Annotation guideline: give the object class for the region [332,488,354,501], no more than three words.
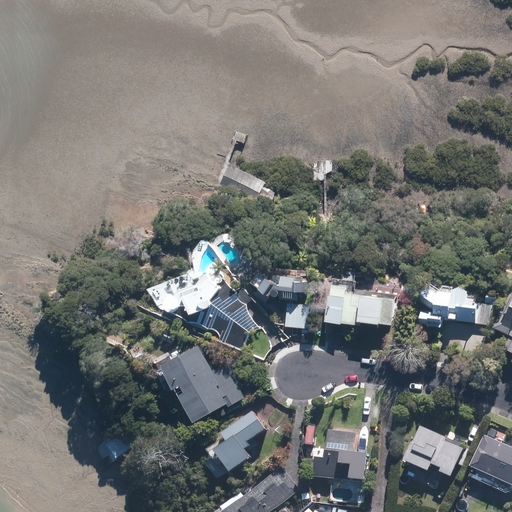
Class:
swimming pool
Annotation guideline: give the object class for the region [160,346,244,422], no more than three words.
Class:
house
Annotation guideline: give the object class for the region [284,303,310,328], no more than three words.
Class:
building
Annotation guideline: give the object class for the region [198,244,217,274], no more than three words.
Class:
swimming pool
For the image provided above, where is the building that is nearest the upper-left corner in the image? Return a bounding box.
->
[220,164,266,200]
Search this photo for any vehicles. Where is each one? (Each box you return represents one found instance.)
[468,425,478,440]
[423,386,438,392]
[360,358,376,364]
[320,382,334,392]
[410,382,423,390]
[345,375,358,382]
[364,398,372,414]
